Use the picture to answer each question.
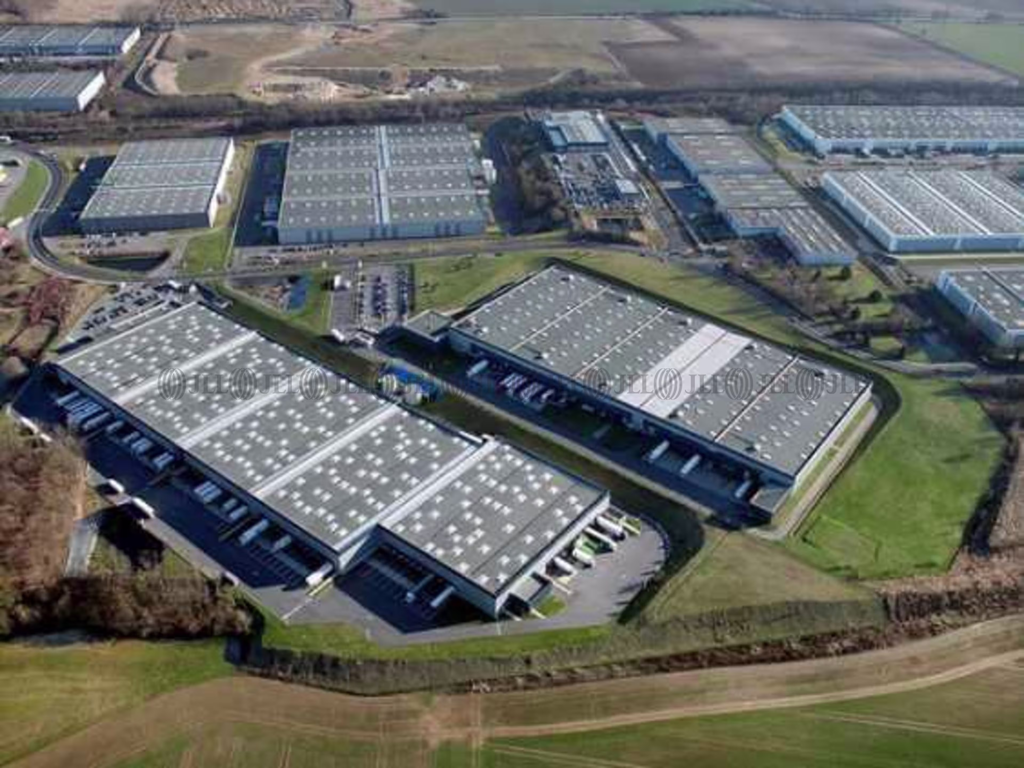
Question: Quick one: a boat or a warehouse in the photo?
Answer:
warehouse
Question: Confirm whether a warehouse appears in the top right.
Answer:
Yes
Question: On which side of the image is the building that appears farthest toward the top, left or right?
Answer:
left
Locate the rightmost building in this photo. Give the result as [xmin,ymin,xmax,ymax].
[942,269,1024,352]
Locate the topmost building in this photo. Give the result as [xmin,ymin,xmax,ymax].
[0,25,141,58]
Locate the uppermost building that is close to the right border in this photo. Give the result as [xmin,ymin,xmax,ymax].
[785,106,1024,153]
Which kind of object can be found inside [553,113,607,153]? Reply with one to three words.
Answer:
building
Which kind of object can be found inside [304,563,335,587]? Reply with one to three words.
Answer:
truck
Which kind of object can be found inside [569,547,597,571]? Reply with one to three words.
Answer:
truck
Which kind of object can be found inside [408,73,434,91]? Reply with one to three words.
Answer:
shed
